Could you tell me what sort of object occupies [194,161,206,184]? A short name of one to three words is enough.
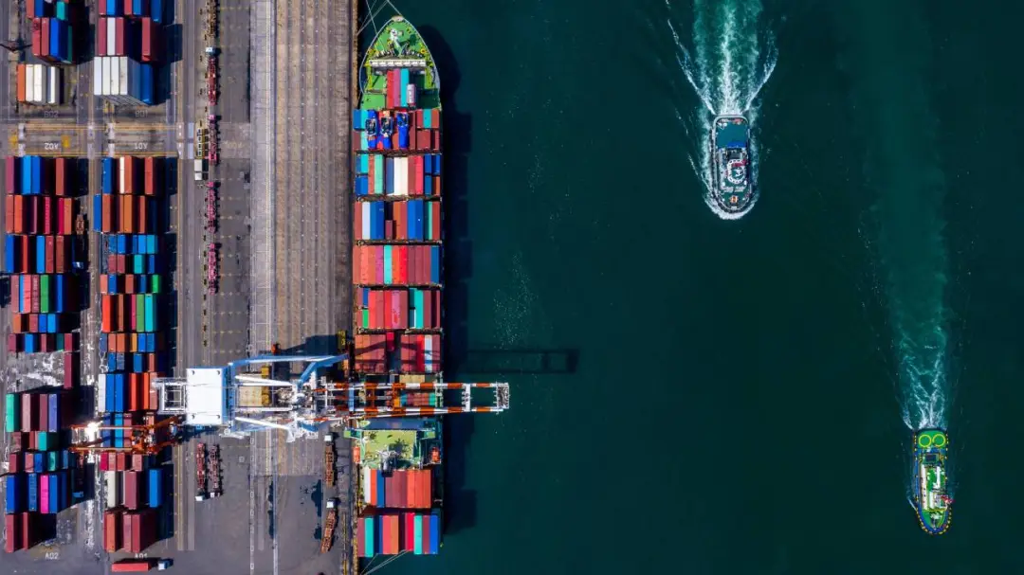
vehicle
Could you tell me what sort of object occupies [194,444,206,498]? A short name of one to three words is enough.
vehicle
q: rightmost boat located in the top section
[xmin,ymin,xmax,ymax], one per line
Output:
[711,117,751,216]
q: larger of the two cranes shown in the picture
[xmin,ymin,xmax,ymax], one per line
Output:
[150,338,510,445]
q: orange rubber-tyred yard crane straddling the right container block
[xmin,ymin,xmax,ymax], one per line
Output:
[71,412,184,460]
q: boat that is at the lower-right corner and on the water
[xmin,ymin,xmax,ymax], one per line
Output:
[912,430,956,536]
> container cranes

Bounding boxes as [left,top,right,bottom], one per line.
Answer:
[71,412,184,460]
[150,338,510,445]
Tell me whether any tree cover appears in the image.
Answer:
No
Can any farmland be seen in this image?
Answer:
No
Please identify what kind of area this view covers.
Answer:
port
